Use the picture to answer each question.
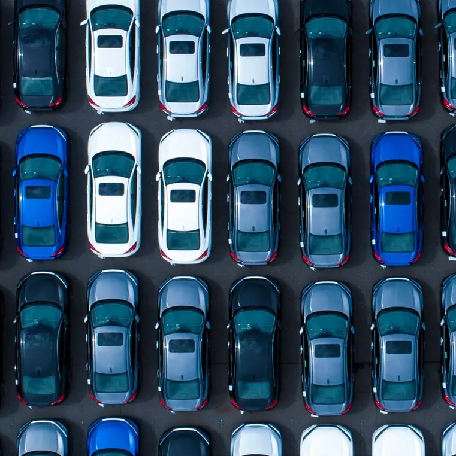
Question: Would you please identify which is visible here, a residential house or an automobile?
automobile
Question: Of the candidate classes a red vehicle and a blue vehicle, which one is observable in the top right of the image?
blue vehicle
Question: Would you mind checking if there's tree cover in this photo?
No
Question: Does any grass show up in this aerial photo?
No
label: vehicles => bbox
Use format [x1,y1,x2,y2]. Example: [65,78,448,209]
[154,275,212,413]
[230,423,283,456]
[372,426,425,456]
[83,268,143,408]
[86,417,142,456]
[11,271,72,409]
[155,129,213,267]
[79,0,142,116]
[297,133,354,271]
[6,0,70,116]
[11,125,72,263]
[439,273,456,410]
[293,0,355,125]
[220,0,282,122]
[363,0,425,124]
[159,427,213,456]
[438,124,456,262]
[17,419,72,456]
[299,281,356,418]
[154,0,212,121]
[300,426,353,456]
[84,122,143,261]
[370,276,427,414]
[226,275,284,413]
[368,130,427,270]
[432,0,456,117]
[225,130,283,267]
